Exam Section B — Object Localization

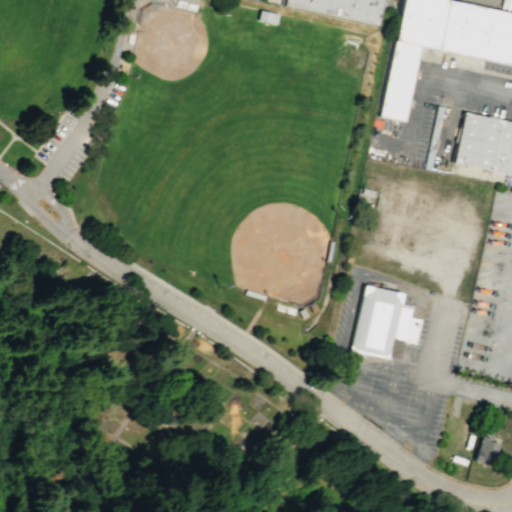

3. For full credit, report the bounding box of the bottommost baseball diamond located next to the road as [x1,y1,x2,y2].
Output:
[130,106,346,306]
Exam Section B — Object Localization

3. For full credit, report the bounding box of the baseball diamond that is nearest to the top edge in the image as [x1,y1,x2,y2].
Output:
[110,6,346,178]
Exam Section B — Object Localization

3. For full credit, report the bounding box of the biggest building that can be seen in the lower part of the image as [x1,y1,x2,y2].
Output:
[350,286,406,360]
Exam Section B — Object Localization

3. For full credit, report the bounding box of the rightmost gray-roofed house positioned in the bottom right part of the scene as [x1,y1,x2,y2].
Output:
[476,434,504,466]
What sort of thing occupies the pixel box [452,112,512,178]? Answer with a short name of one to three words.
building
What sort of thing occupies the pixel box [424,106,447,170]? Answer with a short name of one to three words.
shed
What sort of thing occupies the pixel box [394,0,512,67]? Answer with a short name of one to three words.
building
